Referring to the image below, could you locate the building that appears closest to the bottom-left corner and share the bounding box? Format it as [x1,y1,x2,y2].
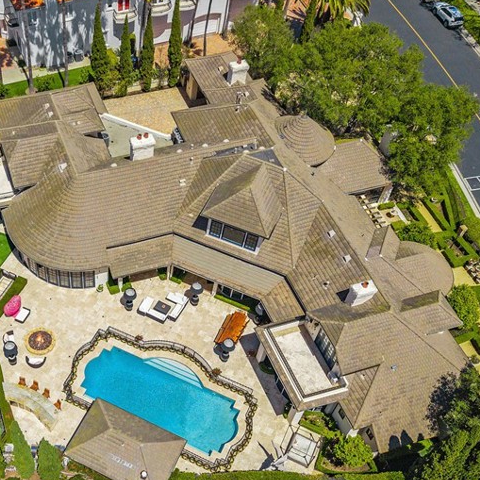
[62,396,188,480]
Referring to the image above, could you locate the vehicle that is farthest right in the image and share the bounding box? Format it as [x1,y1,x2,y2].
[435,1,466,27]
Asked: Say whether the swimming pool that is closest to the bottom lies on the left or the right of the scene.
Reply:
left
